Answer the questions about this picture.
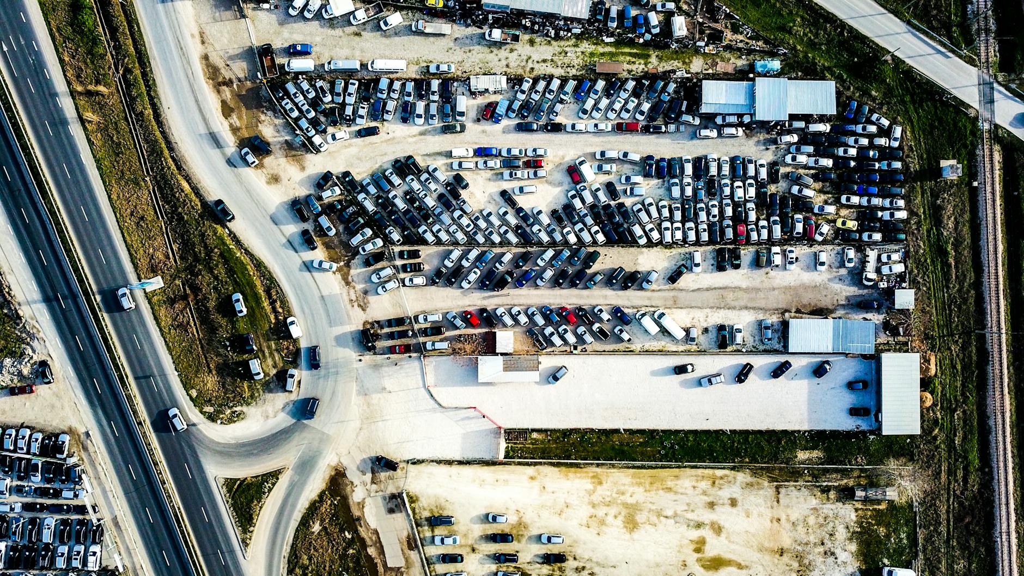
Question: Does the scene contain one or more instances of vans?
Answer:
Yes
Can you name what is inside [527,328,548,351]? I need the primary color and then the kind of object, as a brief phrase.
black truck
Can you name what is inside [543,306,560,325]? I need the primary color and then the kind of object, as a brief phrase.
blue car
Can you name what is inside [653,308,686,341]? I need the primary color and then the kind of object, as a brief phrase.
white van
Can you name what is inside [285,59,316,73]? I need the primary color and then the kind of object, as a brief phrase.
white vehicle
